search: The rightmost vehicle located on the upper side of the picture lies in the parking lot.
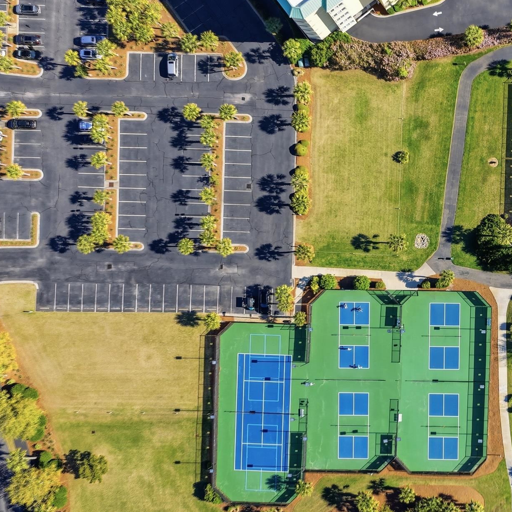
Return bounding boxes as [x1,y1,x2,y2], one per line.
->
[166,53,179,78]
